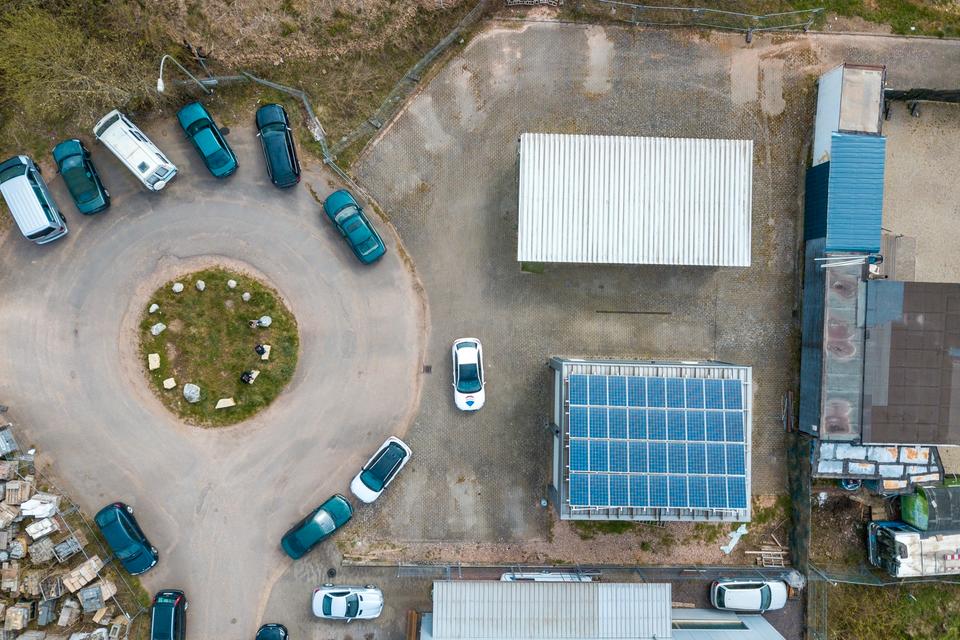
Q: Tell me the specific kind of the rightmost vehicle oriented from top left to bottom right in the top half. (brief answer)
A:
automobile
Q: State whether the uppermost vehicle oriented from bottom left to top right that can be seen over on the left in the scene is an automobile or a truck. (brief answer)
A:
automobile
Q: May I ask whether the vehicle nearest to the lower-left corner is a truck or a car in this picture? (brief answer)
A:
car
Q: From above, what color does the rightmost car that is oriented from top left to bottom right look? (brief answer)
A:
blue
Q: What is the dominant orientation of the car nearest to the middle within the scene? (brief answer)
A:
up and down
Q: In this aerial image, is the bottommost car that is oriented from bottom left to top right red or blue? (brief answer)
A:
blue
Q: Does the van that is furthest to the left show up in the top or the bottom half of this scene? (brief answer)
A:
top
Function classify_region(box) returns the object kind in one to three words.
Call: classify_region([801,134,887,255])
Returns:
shed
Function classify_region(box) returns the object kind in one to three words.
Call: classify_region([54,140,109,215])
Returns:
car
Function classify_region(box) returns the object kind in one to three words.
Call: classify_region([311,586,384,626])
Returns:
car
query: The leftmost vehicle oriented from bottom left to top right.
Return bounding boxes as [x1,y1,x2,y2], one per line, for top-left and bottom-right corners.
[281,492,352,559]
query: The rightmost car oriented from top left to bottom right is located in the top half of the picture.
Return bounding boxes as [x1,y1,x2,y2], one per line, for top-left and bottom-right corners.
[328,193,385,262]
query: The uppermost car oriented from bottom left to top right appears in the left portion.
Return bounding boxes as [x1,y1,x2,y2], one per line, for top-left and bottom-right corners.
[354,437,411,501]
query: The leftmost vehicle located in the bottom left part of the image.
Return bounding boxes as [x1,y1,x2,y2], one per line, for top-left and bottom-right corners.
[98,502,158,574]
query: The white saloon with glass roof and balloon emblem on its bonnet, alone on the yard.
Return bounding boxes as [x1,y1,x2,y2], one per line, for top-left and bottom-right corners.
[450,337,488,411]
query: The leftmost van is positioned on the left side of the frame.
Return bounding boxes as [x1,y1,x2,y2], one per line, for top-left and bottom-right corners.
[0,157,65,244]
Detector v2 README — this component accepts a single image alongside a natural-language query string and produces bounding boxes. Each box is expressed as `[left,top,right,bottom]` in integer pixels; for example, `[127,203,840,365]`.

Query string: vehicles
[181,105,239,177]
[311,586,384,626]
[710,576,787,616]
[257,622,290,640]
[281,492,352,559]
[0,157,65,244]
[860,519,960,579]
[54,140,109,215]
[450,337,488,411]
[94,111,179,193]
[98,502,158,574]
[255,105,302,188]
[328,193,385,262]
[354,437,411,501]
